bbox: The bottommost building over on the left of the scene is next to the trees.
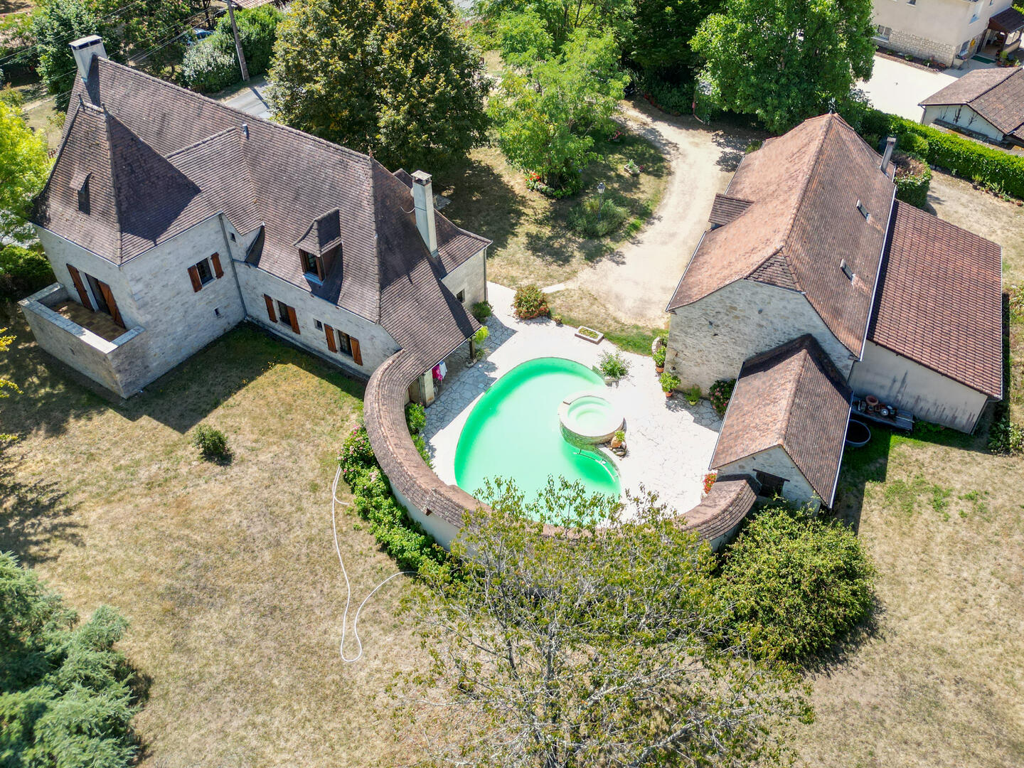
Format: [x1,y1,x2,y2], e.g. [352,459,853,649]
[17,33,492,409]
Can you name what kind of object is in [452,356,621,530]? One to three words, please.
swimming pool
